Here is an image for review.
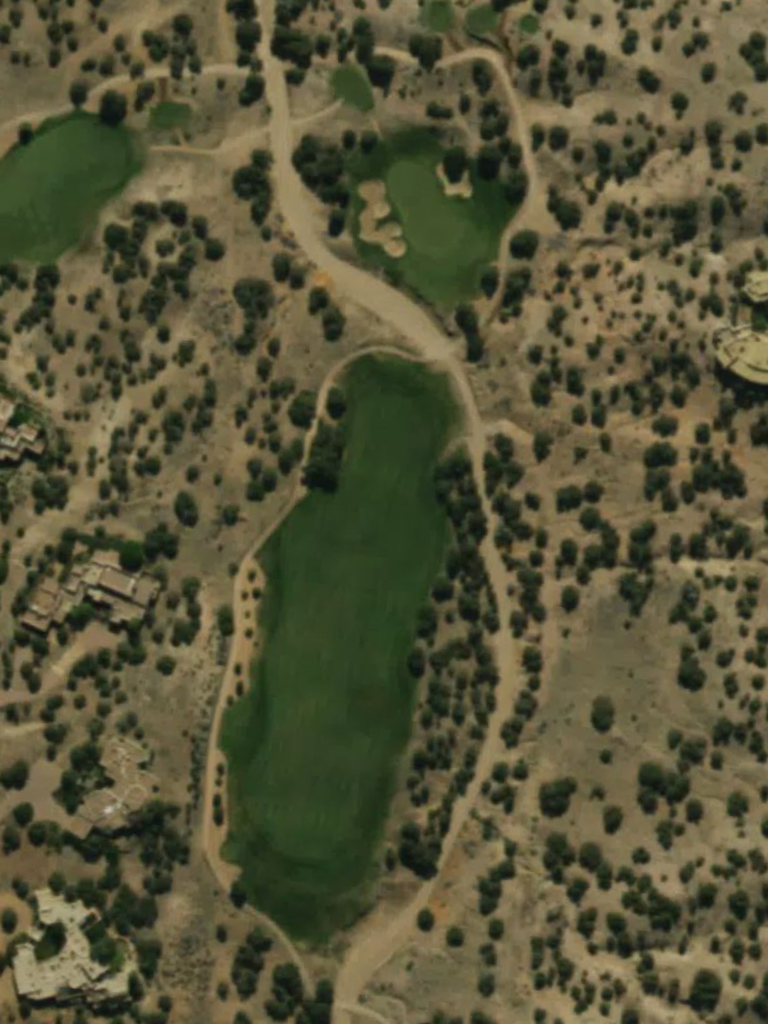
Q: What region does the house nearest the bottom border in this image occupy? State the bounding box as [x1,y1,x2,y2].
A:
[12,888,133,1000]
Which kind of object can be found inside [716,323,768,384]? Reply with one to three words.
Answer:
house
